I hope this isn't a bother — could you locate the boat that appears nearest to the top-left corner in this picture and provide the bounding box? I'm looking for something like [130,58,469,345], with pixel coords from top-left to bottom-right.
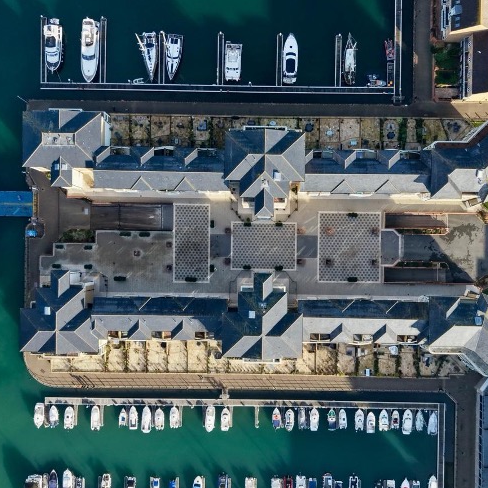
[44,16,62,72]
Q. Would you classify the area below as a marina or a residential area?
marina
